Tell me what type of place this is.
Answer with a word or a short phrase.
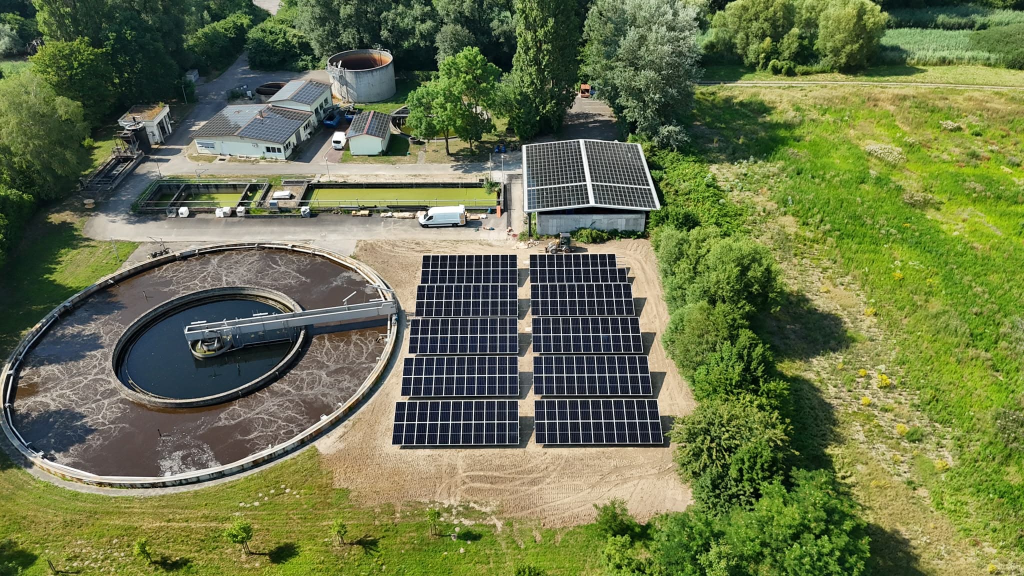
industrial area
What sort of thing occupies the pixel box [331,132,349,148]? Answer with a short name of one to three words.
vehicle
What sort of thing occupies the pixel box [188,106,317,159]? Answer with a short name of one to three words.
building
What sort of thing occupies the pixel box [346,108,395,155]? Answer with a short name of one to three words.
shed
